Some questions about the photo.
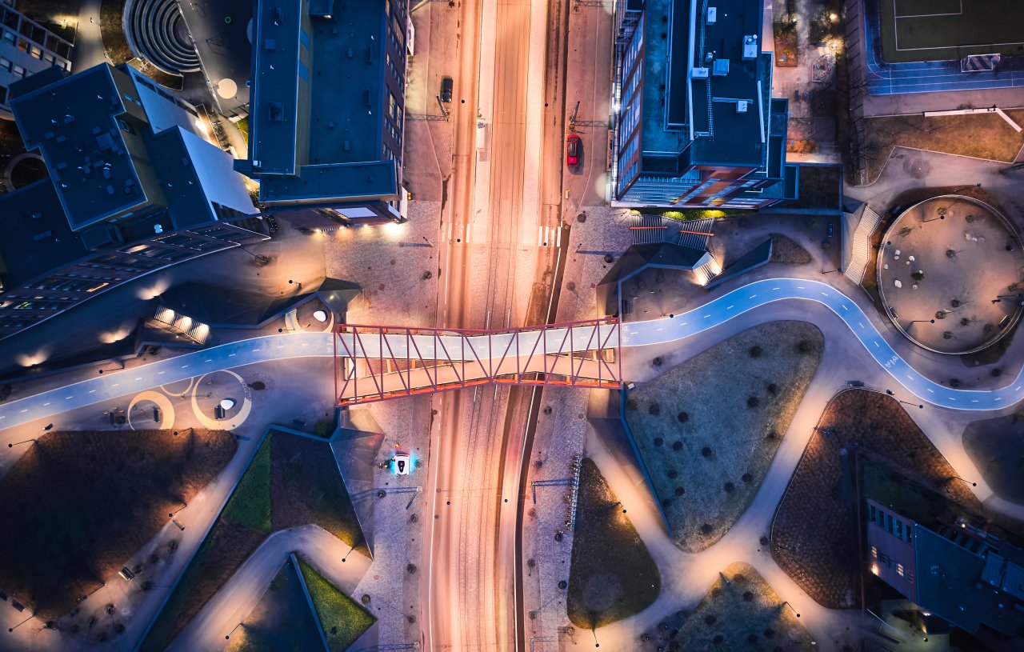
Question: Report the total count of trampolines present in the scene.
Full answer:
There are no trampolines in this view.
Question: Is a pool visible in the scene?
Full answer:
No, no pool is visible in the scene.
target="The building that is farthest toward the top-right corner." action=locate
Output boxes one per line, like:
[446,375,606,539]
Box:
[601,0,798,210]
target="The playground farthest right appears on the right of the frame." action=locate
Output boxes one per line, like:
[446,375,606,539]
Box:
[884,200,1021,349]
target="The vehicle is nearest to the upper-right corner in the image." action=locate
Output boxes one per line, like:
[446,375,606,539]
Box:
[567,137,579,163]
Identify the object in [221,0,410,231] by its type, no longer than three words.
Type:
building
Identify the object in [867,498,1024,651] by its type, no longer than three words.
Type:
building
